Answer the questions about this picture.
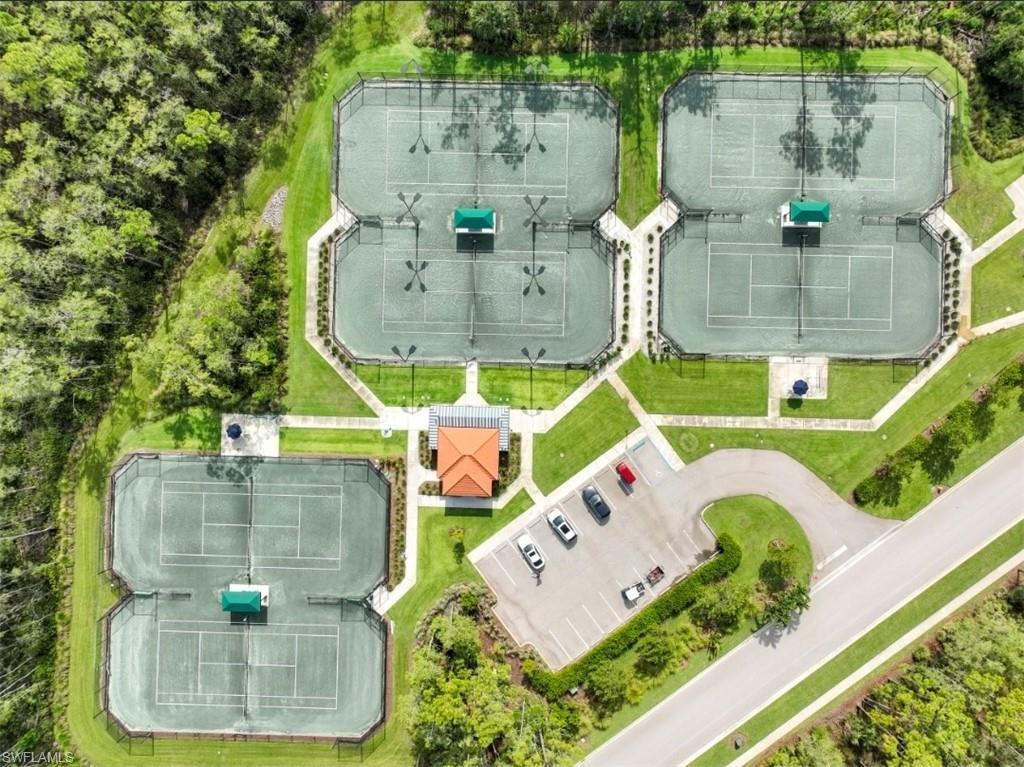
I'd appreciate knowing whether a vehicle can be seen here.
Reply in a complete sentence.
Yes, you can see a vehicle in this photo.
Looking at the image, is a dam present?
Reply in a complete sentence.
No, there is no dam in the image.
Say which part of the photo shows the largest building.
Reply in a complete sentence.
Look in the center portion of the view to spot the largest building.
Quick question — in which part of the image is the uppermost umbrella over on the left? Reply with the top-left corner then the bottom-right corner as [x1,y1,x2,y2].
[226,423,242,439]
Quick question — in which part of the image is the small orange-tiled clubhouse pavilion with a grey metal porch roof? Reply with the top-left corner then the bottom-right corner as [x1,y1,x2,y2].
[429,405,510,496]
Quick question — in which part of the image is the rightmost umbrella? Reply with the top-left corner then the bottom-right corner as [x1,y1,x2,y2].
[792,379,809,396]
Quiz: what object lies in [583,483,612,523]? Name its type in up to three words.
car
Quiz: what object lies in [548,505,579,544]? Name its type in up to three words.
car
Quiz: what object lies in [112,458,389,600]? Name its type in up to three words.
tennis court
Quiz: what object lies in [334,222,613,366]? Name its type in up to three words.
tennis court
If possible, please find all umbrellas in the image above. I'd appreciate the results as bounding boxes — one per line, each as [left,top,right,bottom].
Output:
[226,423,242,439]
[792,379,809,396]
